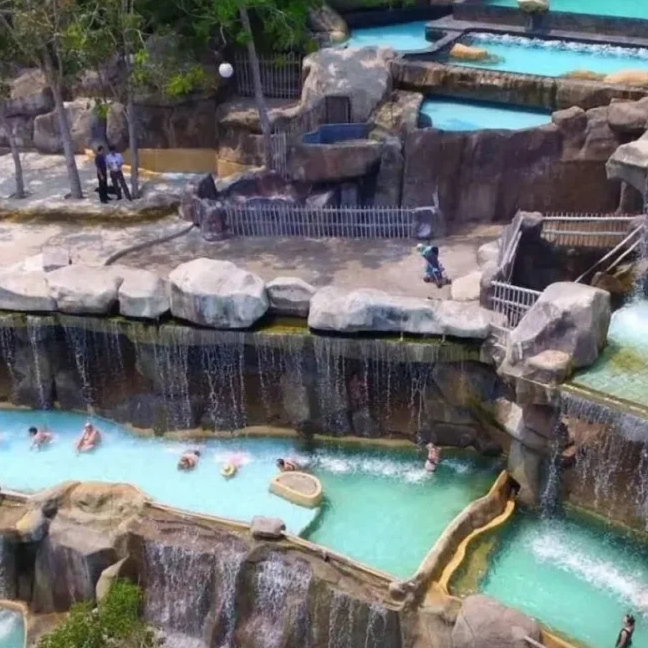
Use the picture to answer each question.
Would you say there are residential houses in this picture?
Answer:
No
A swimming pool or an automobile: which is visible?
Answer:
swimming pool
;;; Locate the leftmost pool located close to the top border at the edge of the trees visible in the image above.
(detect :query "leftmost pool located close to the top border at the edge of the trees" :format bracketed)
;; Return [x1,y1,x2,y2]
[329,18,448,60]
